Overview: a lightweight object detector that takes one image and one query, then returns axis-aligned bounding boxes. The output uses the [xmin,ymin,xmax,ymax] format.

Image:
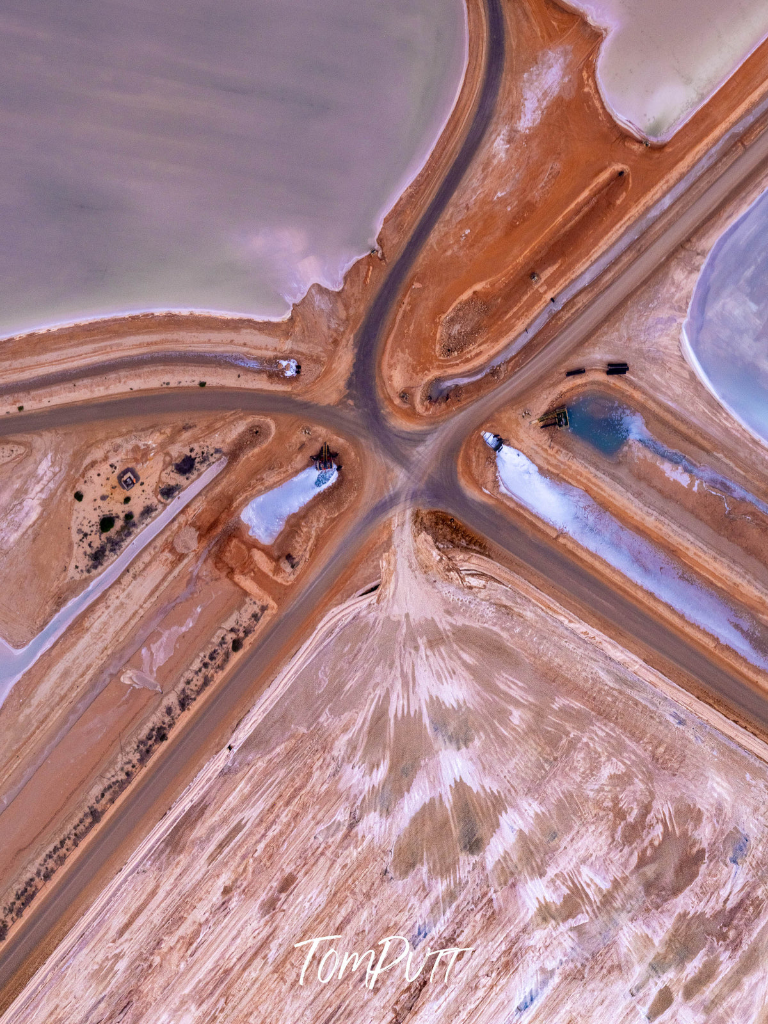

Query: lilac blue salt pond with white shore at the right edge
[682,191,768,442]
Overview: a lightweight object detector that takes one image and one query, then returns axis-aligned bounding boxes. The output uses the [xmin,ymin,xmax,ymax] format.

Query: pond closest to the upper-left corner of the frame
[0,0,468,342]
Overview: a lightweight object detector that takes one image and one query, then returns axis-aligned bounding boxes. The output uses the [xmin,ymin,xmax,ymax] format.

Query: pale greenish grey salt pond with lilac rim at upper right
[557,0,768,144]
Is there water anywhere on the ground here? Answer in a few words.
Yes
